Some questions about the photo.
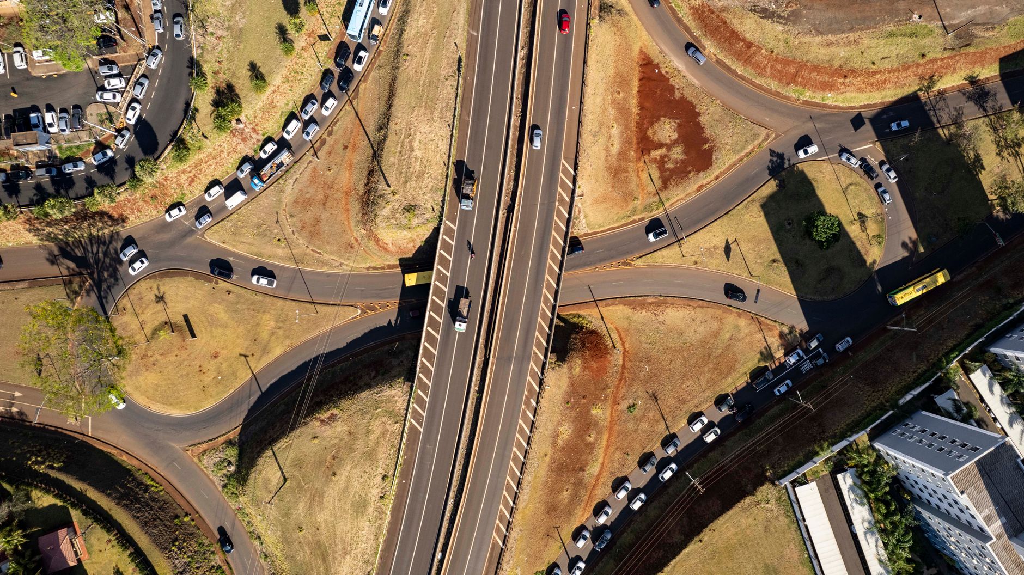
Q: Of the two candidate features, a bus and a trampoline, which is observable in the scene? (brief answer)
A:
bus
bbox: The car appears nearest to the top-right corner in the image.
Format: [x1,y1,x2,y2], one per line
[887,119,912,133]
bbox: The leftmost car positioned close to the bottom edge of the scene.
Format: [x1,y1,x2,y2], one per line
[218,533,235,554]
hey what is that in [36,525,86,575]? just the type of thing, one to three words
house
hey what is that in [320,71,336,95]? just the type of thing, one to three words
car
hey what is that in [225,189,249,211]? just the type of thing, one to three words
vehicle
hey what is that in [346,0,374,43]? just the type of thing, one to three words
bus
